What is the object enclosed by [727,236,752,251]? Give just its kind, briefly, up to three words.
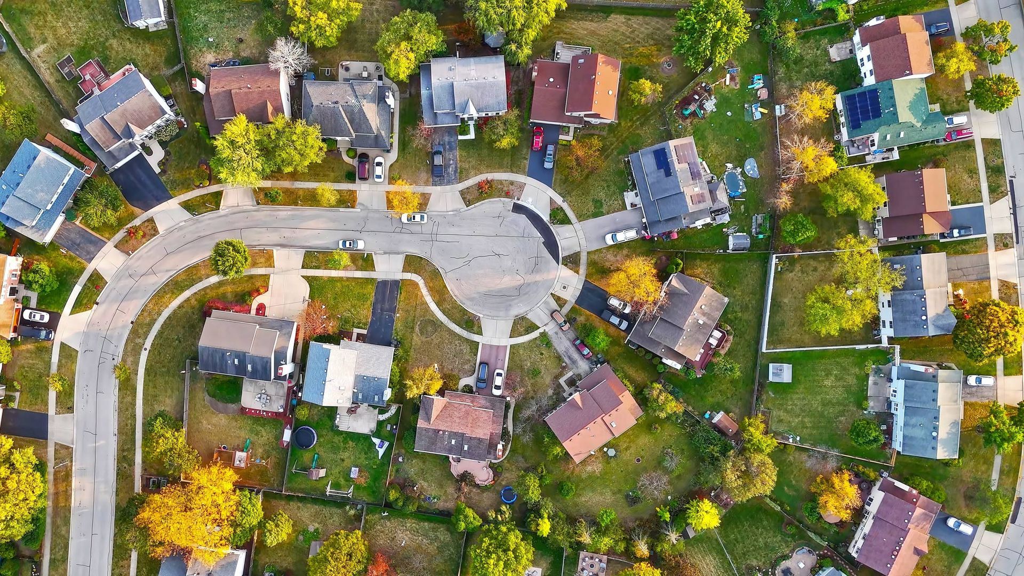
shed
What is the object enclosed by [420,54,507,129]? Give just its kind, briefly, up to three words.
house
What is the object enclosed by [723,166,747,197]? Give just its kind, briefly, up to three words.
swimming pool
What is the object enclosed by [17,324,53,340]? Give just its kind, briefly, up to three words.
vehicle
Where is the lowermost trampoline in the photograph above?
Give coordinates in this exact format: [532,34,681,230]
[501,487,517,503]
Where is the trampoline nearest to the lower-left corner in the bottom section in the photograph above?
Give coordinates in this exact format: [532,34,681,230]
[291,425,318,451]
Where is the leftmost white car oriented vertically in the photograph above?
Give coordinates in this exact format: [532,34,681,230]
[373,156,385,182]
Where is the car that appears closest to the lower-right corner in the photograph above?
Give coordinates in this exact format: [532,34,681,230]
[944,515,975,537]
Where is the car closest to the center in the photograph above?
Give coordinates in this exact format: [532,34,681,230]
[549,307,571,332]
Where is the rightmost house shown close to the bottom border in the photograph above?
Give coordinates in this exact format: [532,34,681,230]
[846,478,941,576]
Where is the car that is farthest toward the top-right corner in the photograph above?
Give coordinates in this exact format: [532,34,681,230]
[926,22,951,35]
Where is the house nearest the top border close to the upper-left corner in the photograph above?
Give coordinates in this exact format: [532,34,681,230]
[124,0,168,29]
